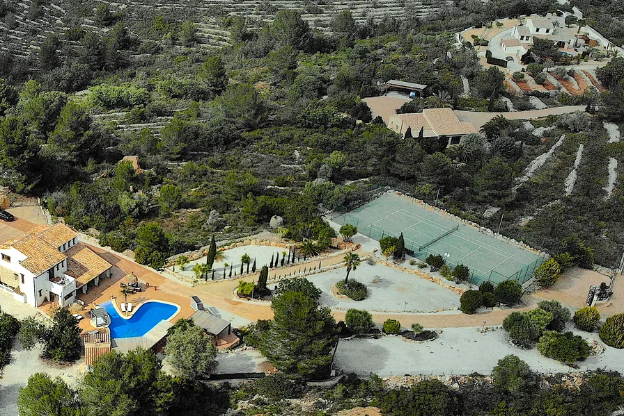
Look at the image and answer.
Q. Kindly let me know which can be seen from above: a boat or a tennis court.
tennis court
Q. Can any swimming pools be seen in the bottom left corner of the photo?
Yes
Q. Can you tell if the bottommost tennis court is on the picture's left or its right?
right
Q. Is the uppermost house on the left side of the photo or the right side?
right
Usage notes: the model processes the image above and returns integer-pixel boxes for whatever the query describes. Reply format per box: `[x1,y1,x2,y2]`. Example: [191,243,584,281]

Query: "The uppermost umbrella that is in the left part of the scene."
[125,270,141,286]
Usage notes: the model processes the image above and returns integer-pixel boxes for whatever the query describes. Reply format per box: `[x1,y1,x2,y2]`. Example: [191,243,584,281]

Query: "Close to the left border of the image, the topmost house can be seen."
[0,218,114,307]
